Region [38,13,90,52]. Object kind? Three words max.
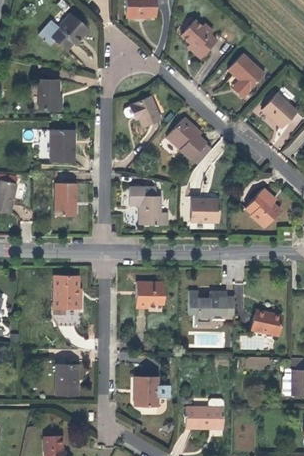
house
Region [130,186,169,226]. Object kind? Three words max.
house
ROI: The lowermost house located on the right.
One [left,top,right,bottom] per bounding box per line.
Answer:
[185,398,225,438]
